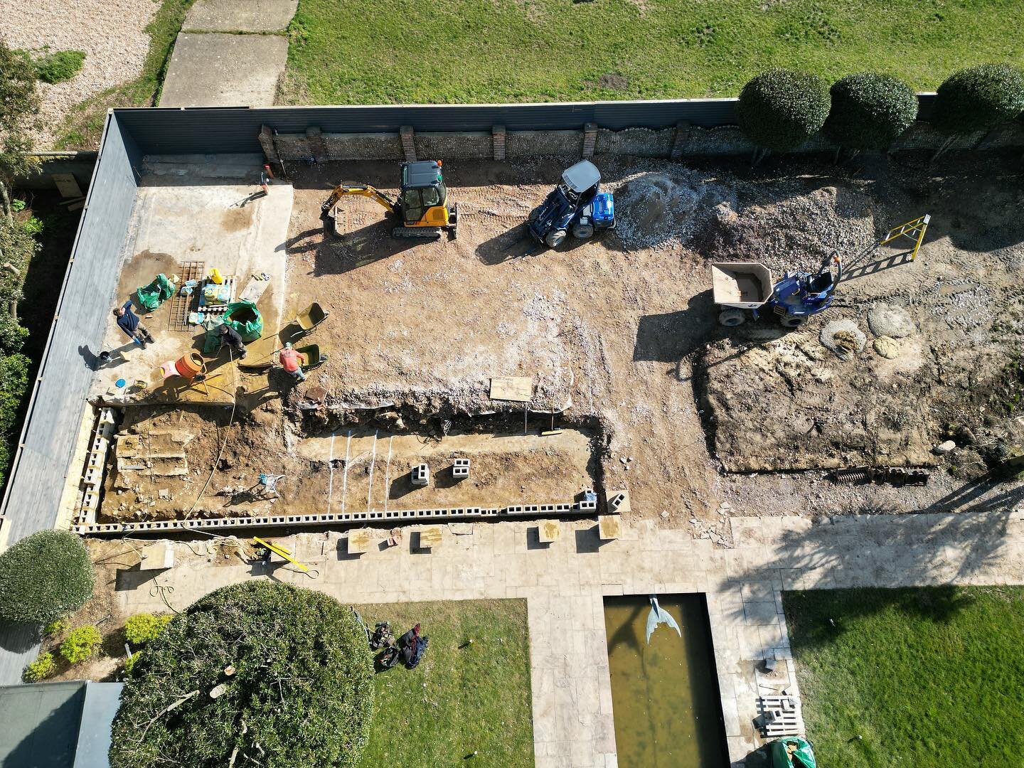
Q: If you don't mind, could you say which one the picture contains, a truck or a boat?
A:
truck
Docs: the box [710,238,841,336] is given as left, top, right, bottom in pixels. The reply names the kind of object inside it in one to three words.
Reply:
truck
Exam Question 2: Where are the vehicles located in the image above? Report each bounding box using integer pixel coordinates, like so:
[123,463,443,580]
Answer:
[499,154,619,270]
[326,157,465,239]
[710,238,841,336]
